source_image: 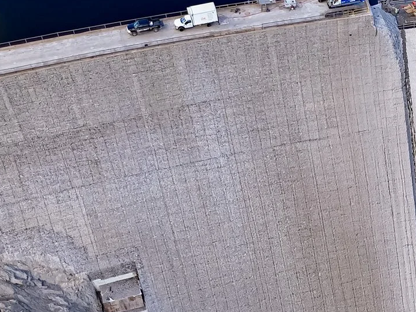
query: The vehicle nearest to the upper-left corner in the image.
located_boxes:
[126,15,162,31]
